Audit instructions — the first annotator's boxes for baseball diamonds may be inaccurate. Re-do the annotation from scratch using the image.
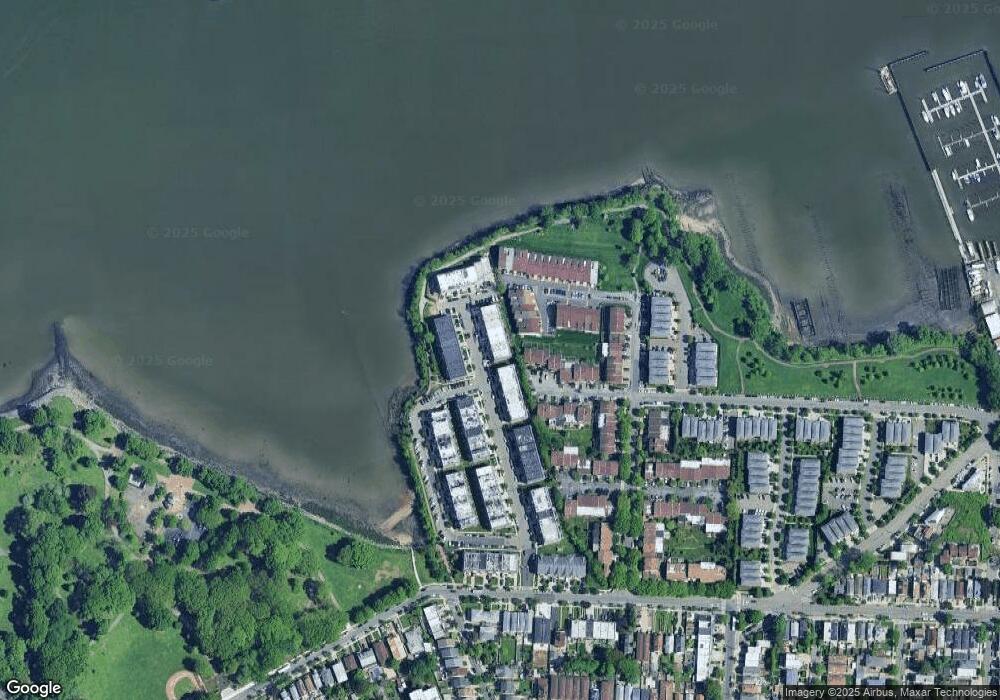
[168,673,208,700]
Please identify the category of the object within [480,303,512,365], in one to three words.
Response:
building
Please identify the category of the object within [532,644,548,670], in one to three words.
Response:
house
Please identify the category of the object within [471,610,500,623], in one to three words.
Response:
house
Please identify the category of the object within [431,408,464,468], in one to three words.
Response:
building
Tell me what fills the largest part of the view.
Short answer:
water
